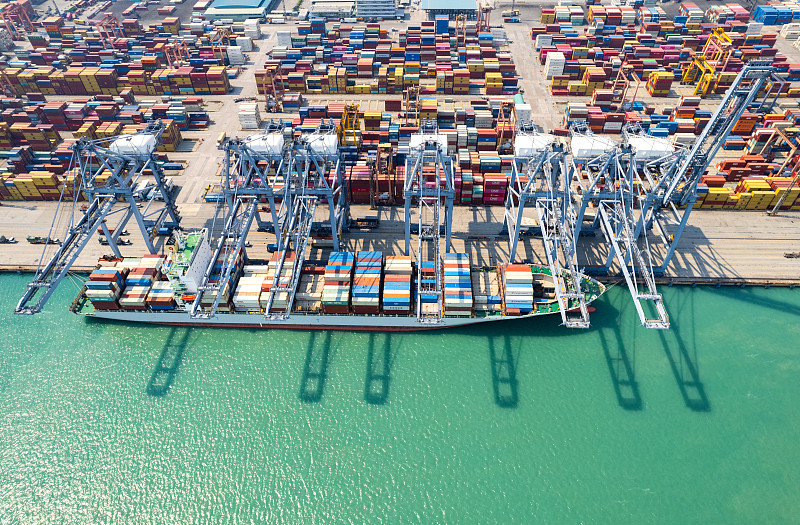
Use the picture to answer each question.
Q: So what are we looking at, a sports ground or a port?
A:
port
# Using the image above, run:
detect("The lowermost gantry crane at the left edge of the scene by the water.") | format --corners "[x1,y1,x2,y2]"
[10,120,188,321]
